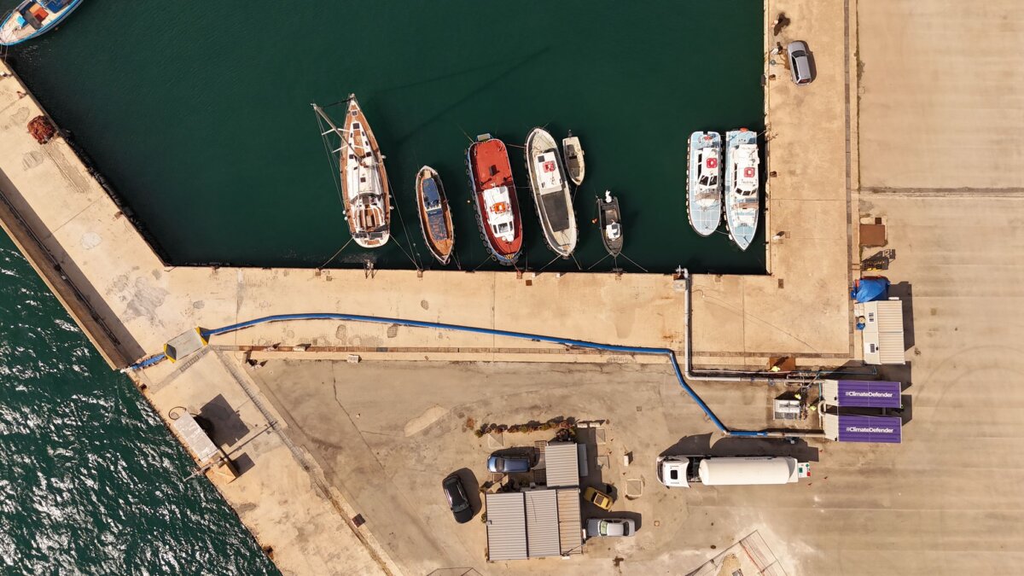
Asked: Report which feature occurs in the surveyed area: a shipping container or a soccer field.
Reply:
shipping container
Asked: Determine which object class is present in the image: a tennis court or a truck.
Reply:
truck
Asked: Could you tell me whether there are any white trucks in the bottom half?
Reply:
Yes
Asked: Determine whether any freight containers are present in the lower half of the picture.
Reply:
Yes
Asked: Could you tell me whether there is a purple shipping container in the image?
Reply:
Yes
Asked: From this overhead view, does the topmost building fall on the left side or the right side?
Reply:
right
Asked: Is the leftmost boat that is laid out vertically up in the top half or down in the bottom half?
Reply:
top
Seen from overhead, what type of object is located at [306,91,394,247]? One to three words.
boat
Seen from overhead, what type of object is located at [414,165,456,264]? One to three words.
boat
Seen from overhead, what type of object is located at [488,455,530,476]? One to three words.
car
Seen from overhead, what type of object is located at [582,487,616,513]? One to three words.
car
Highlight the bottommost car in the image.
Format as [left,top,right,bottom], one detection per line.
[586,517,636,539]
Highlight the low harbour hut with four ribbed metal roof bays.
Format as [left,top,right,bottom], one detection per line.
[485,441,588,562]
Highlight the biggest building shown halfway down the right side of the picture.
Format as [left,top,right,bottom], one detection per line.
[864,298,906,364]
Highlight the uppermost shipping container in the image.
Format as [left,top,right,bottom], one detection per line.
[825,379,902,408]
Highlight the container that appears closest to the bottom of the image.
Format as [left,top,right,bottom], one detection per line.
[825,412,902,443]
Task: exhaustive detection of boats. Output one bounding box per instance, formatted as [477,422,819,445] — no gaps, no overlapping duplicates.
[562,132,585,185]
[0,0,91,47]
[522,128,581,262]
[723,128,759,252]
[414,165,456,264]
[686,131,724,237]
[596,190,624,257]
[463,132,525,265]
[306,91,394,247]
